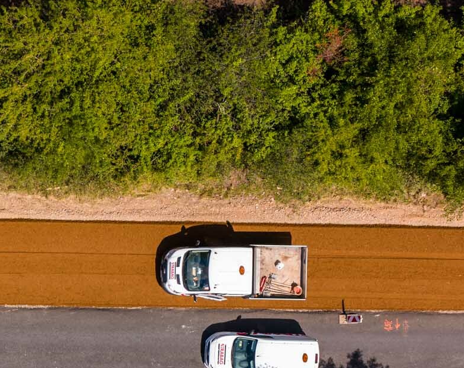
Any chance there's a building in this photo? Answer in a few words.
No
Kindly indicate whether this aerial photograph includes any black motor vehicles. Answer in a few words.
No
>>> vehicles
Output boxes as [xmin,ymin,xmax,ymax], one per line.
[203,329,318,368]
[159,241,308,305]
